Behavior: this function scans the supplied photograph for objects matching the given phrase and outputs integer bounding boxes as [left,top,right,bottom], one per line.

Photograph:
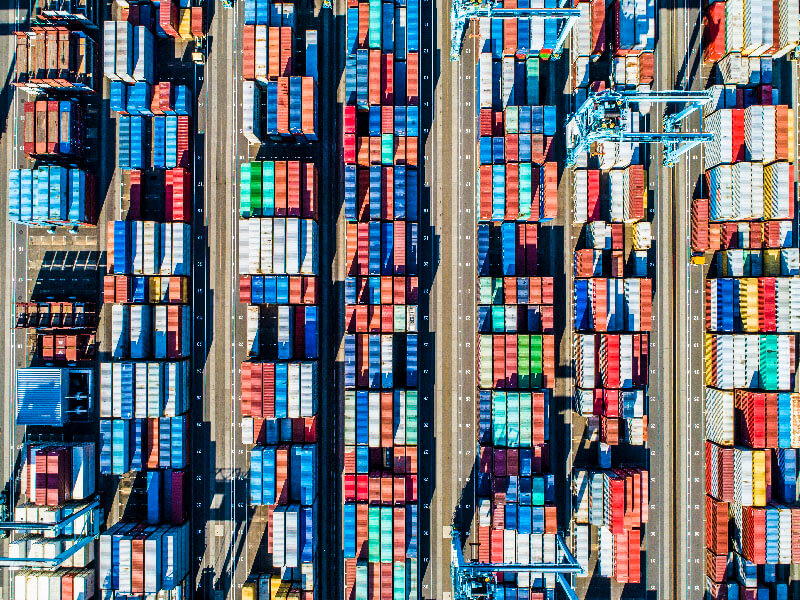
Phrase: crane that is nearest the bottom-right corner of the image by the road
[452,527,583,600]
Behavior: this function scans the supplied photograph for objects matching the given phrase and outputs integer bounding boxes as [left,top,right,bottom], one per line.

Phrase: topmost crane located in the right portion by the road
[452,0,583,62]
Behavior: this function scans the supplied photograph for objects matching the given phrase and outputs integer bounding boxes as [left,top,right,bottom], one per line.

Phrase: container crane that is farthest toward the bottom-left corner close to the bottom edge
[0,491,104,574]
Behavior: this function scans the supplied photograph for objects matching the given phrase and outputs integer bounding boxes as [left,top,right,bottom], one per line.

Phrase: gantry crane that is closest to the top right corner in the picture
[566,88,713,170]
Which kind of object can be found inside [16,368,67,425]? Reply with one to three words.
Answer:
shed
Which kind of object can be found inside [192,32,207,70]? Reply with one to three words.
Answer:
vehicle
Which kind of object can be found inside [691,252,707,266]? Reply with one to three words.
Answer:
vehicle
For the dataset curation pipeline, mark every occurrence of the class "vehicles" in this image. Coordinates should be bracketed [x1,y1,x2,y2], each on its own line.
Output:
[691,252,707,266]
[192,32,207,70]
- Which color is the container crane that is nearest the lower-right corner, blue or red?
blue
